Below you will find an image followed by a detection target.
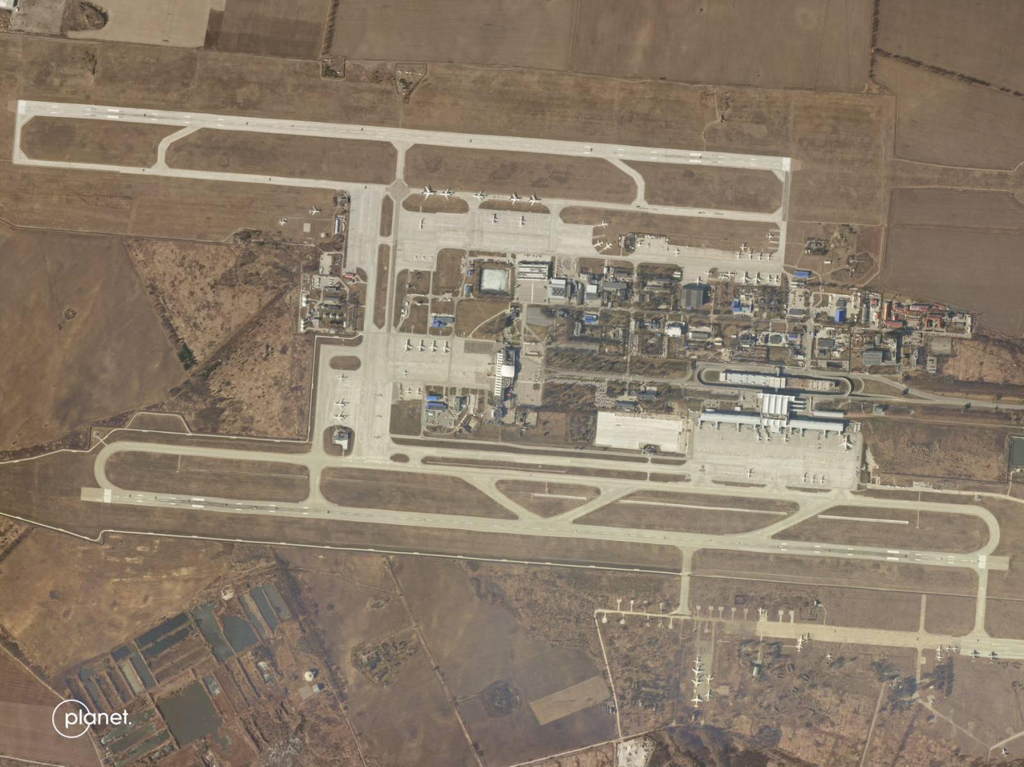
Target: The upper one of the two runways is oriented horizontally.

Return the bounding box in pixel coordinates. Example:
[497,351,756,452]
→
[8,100,800,171]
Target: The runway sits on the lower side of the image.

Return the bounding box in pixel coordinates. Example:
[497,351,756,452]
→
[81,487,1009,571]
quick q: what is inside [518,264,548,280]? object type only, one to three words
building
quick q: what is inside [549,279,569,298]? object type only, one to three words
building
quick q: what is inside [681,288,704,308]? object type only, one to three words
hangar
